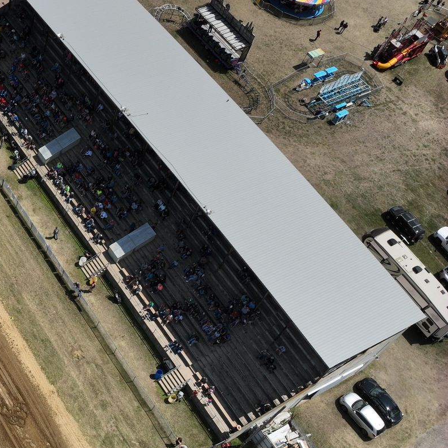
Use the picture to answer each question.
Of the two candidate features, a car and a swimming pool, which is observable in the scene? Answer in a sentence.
There is a car in the scene.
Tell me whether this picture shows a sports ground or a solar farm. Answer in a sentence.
The area seen from above is a sports ground.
